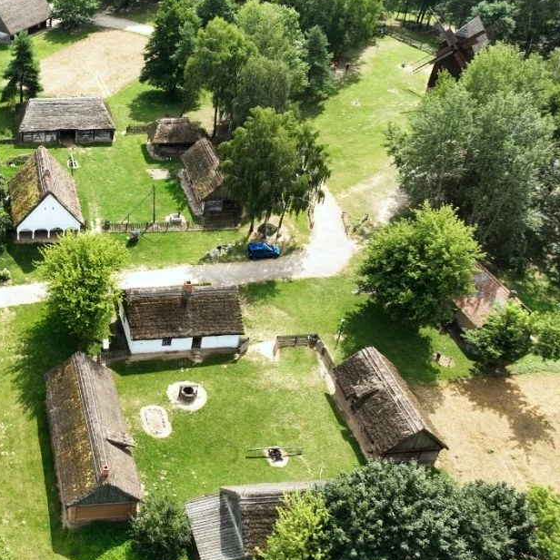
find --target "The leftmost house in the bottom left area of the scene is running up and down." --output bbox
[42,348,142,530]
